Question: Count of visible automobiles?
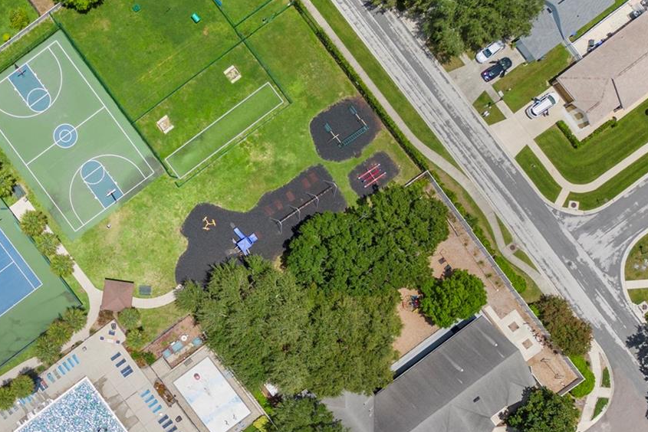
three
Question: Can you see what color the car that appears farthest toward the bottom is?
white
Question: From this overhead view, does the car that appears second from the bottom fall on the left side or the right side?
right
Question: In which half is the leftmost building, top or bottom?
bottom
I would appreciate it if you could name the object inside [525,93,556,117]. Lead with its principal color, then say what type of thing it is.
white car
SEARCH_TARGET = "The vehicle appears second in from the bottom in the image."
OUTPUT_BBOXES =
[479,57,510,81]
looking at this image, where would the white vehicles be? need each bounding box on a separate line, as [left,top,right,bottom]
[472,38,503,63]
[525,93,556,117]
